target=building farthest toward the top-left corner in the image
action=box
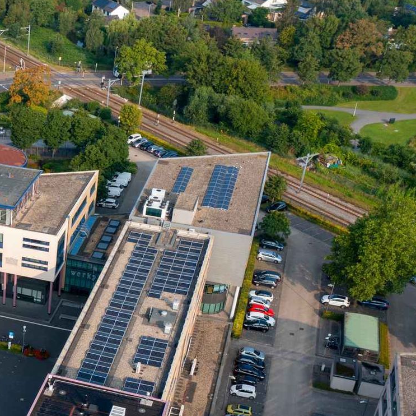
[82,0,125,21]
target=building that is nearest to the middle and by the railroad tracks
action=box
[128,150,271,314]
